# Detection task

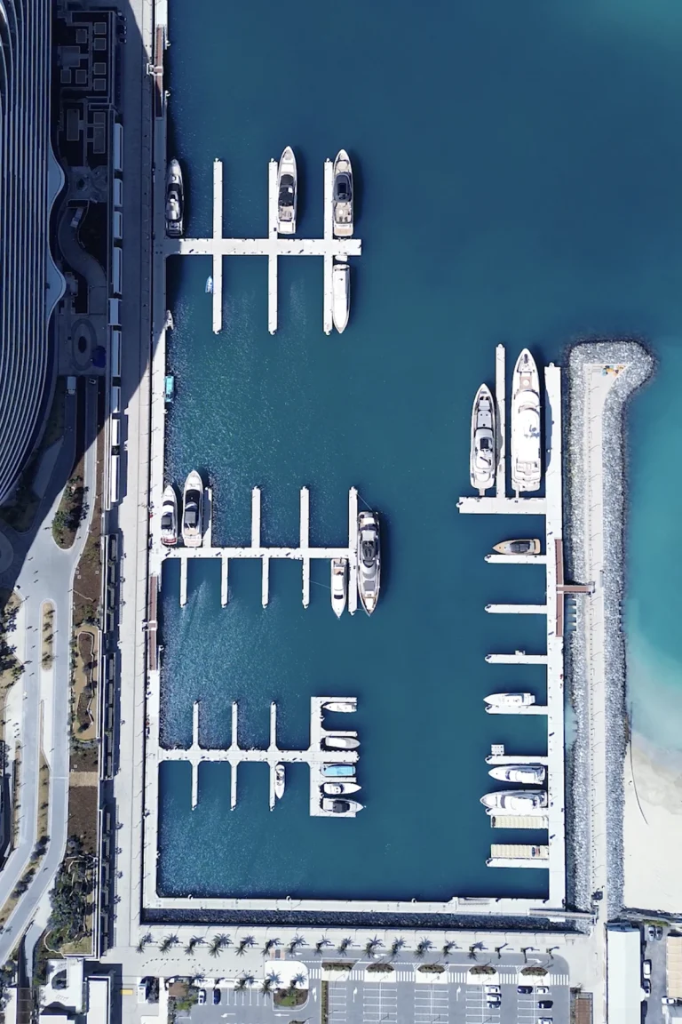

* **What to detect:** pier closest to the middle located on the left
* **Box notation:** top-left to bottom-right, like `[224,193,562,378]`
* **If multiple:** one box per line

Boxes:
[161,485,358,616]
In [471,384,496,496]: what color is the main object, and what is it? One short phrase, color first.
white boat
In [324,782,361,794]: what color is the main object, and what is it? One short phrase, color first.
white boat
